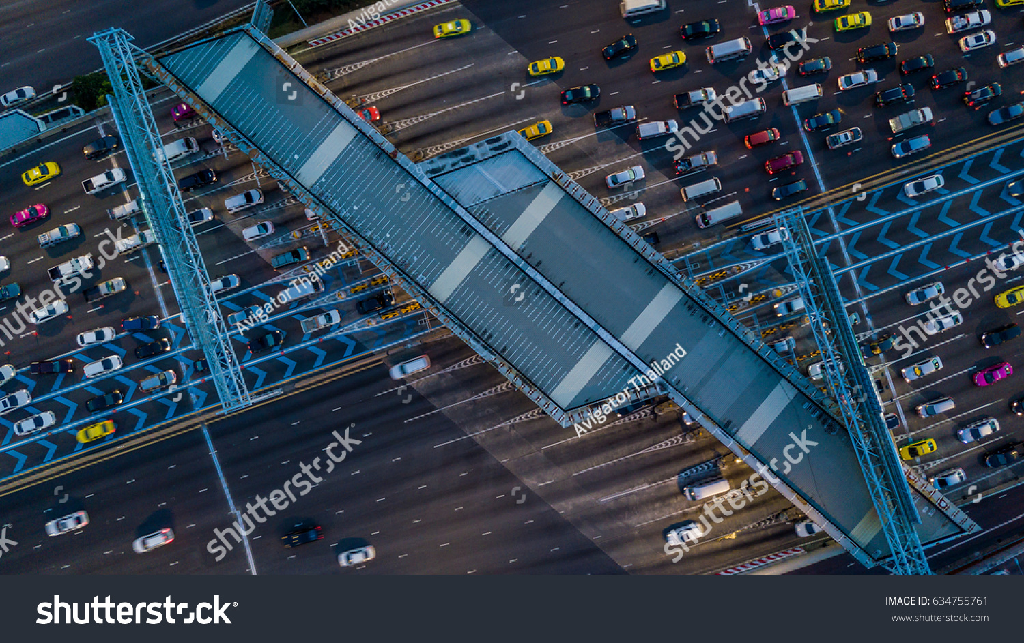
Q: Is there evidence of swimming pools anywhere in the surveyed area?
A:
No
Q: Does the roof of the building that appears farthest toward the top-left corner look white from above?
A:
No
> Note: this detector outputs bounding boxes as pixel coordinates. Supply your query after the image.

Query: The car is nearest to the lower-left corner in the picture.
[48,511,89,535]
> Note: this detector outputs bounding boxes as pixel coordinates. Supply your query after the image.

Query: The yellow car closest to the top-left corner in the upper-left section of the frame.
[21,162,62,185]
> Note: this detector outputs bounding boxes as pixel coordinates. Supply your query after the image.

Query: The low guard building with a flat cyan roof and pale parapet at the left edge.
[0,109,45,153]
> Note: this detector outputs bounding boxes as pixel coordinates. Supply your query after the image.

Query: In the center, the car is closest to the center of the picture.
[391,356,431,378]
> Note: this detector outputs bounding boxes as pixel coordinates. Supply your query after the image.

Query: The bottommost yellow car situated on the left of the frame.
[76,419,118,442]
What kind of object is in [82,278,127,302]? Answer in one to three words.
truck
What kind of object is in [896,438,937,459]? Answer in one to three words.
car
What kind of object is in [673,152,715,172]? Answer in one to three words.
vehicle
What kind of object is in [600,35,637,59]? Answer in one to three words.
car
